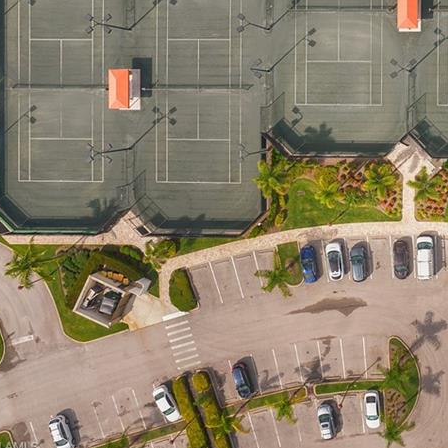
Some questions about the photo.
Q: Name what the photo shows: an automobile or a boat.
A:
automobile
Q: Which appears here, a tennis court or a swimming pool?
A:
tennis court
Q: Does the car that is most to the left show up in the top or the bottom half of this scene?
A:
bottom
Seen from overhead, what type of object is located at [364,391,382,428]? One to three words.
car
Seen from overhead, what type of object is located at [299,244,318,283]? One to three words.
car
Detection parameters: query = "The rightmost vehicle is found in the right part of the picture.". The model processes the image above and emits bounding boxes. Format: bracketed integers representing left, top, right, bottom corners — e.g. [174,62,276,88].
[416,236,434,280]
